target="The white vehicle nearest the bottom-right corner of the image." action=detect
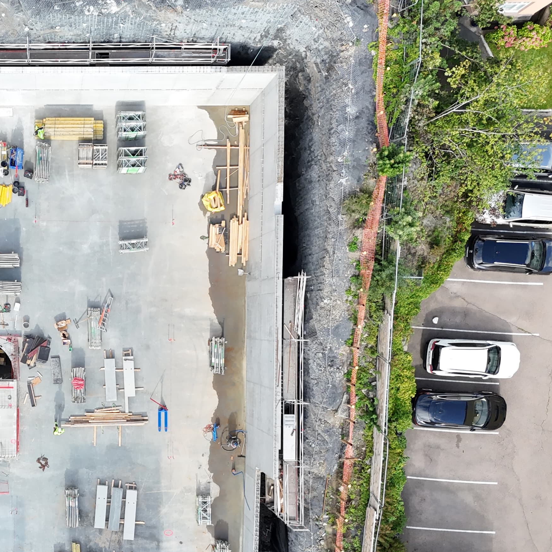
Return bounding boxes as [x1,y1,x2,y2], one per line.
[420,335,519,383]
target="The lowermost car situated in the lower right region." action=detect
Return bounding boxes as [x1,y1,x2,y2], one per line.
[406,388,506,437]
